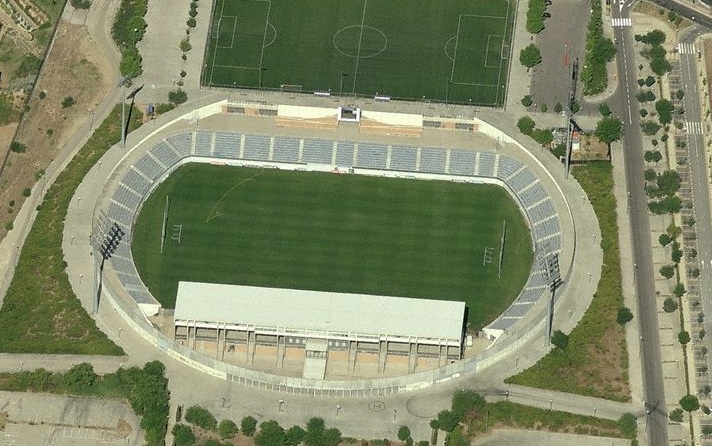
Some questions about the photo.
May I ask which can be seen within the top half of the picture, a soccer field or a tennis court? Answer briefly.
soccer field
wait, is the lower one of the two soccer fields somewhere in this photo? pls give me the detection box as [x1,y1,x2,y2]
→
[133,159,536,330]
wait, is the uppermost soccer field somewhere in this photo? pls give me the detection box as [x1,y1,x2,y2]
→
[202,0,517,109]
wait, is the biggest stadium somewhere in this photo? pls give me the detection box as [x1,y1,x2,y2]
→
[92,98,578,397]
